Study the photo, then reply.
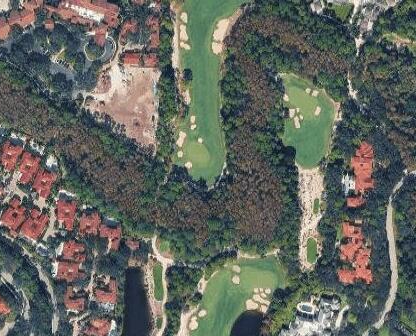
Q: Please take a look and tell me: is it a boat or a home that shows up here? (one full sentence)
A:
It is a home that can be seen here.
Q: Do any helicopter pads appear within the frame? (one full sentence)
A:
No, there's no helicopter pad here.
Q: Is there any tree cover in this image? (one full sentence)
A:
Yes, tree cover shows up in the scene.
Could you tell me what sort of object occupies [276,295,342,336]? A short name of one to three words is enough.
house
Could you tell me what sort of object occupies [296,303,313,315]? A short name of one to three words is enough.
swimming pool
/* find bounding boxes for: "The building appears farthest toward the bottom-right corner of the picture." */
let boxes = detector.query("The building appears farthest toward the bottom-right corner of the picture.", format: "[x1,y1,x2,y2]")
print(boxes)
[337,267,374,285]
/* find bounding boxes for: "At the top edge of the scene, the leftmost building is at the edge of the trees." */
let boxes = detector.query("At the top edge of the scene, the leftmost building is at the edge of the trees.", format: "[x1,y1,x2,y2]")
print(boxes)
[0,0,43,35]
